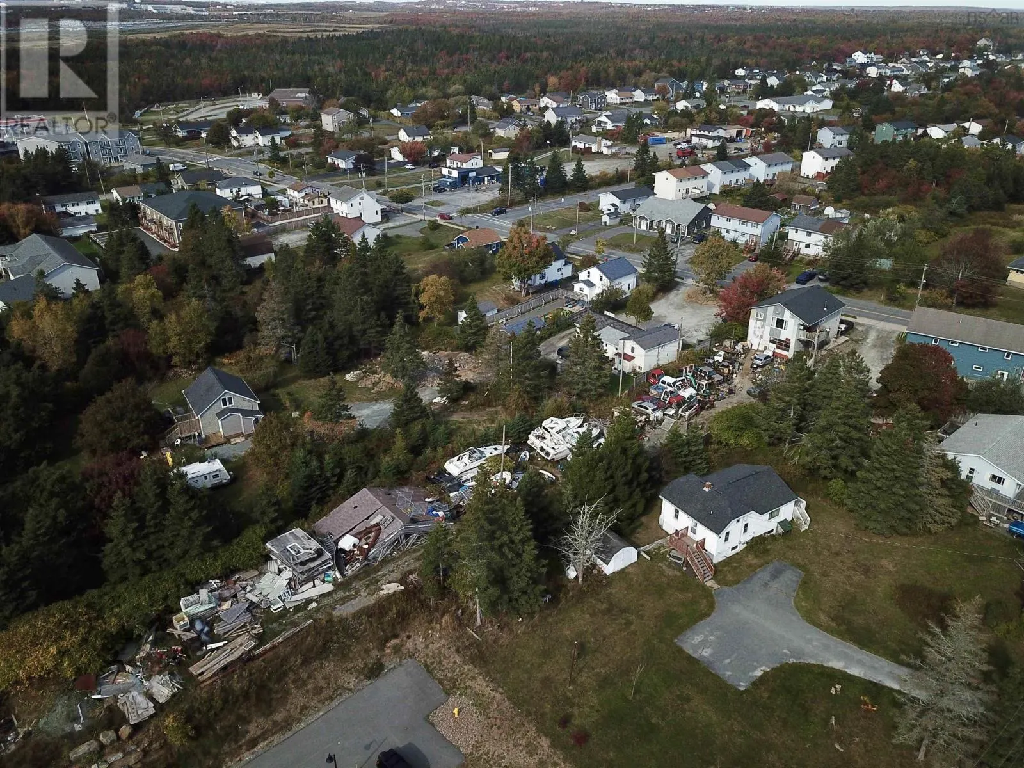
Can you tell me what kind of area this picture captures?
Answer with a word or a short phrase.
residential area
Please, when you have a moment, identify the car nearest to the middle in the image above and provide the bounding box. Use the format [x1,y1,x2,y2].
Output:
[555,344,574,357]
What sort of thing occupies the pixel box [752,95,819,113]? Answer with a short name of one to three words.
building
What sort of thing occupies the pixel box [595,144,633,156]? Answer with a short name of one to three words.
building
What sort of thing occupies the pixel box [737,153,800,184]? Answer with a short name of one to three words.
house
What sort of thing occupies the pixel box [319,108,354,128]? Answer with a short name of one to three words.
house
